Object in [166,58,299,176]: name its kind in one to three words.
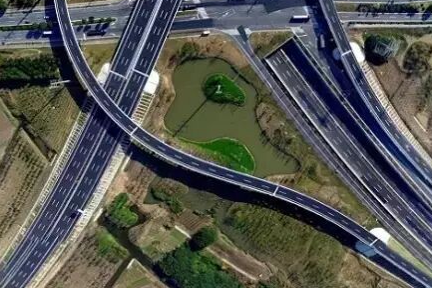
pond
